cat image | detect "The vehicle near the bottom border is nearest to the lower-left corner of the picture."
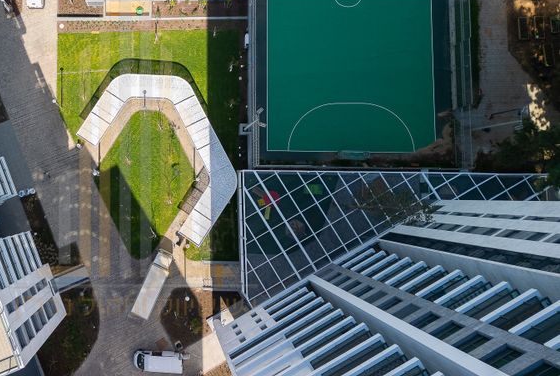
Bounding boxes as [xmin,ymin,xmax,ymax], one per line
[134,349,187,376]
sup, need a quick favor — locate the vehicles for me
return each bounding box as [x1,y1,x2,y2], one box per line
[134,349,187,376]
[24,0,42,6]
